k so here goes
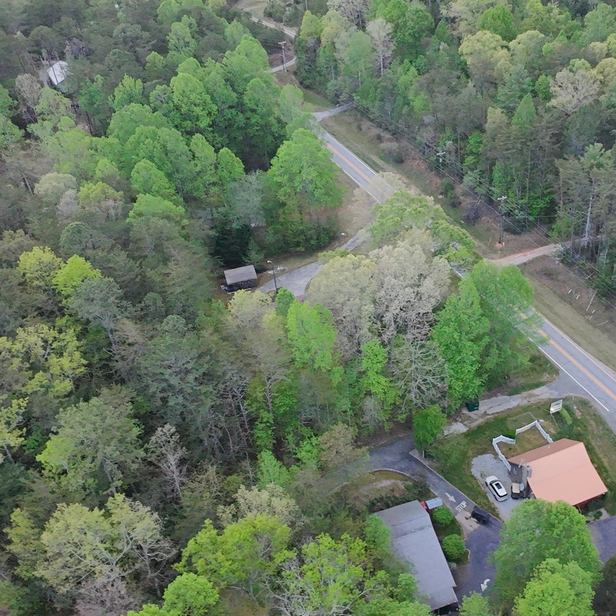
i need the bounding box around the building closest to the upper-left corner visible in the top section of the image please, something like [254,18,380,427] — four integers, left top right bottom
[47,61,70,92]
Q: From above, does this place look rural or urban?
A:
rural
